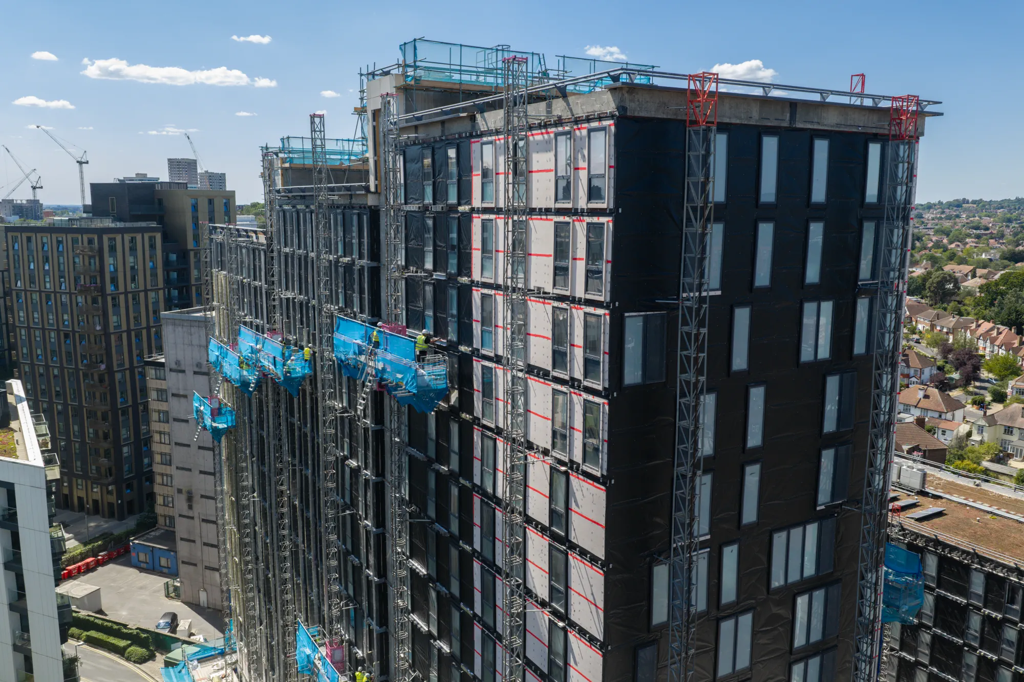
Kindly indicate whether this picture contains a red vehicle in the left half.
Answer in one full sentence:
No, looking in the left half, there is no red vehicle.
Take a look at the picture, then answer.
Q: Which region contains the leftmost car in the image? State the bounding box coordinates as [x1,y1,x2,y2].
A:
[153,610,180,634]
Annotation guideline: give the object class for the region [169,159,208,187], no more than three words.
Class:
building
